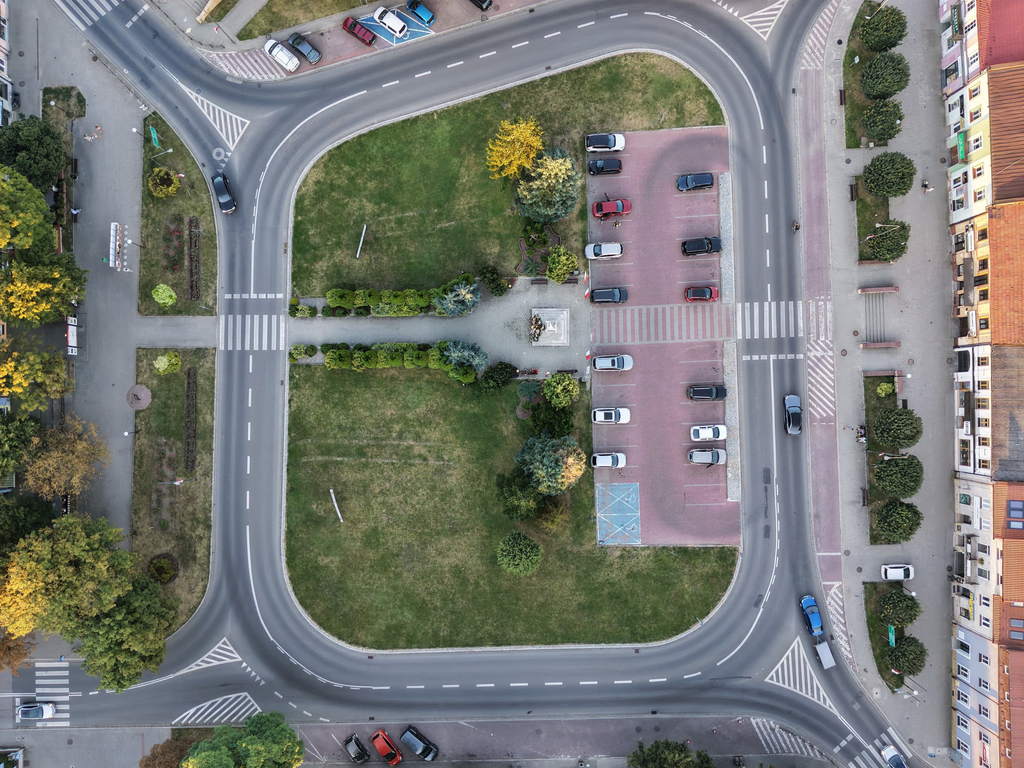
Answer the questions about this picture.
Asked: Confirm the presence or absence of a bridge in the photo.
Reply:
No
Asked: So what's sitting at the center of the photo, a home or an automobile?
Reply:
automobile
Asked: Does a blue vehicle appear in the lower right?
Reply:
Yes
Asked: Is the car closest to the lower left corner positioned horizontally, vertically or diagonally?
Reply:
horizontally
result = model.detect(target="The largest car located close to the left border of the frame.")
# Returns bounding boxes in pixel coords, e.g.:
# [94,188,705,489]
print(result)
[17,700,58,721]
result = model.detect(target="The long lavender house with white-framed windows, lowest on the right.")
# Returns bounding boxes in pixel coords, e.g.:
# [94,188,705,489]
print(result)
[947,614,1024,768]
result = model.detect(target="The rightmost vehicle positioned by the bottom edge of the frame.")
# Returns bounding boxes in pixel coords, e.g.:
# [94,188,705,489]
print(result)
[878,740,907,768]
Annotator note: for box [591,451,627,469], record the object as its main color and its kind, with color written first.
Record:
white car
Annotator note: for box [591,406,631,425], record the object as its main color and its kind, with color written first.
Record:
white car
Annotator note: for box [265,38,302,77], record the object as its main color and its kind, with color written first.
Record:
white van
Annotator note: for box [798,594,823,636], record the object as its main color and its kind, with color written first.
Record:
blue car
